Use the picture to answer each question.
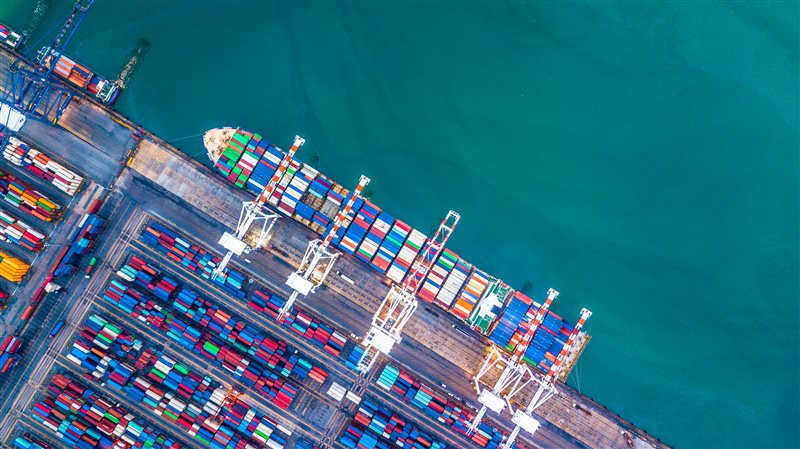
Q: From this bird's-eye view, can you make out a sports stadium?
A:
No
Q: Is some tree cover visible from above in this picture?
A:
No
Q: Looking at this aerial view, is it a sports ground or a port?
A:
port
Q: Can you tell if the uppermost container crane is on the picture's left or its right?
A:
left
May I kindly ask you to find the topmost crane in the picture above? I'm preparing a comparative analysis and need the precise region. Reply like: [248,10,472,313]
[0,0,95,151]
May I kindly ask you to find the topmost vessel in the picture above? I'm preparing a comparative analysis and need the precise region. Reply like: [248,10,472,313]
[0,19,34,54]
